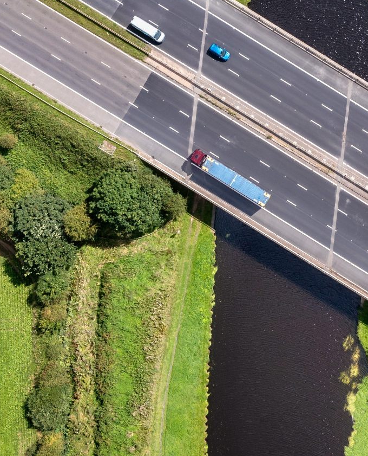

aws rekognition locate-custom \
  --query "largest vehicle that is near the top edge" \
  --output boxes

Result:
[130,15,166,43]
